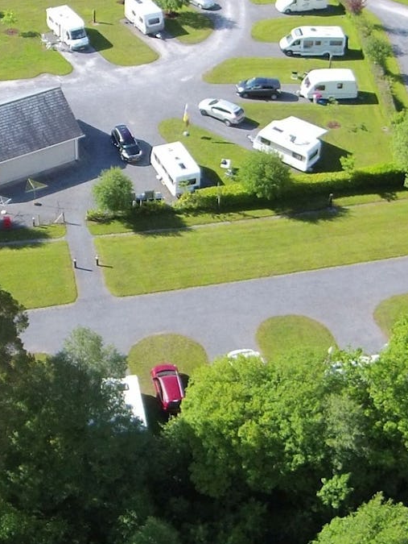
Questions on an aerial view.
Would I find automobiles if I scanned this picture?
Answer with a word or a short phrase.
Yes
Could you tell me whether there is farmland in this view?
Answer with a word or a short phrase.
No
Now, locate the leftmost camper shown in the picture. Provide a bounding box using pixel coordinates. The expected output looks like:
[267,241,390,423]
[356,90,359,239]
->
[48,1,88,44]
